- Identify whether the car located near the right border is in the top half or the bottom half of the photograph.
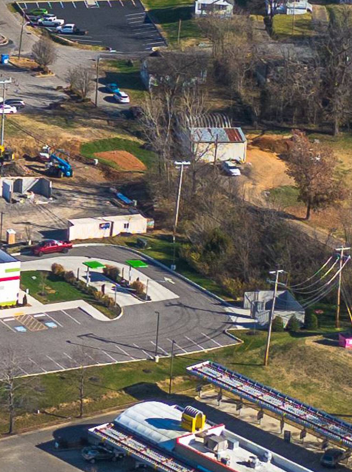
bottom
